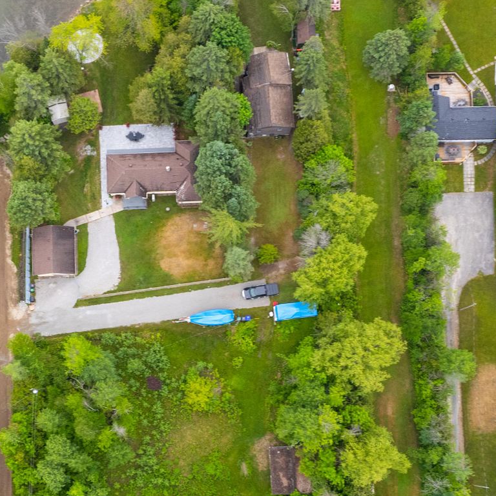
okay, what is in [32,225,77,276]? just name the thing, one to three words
building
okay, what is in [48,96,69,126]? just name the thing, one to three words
shed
